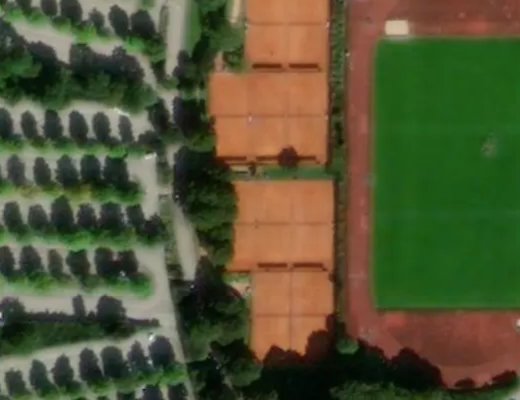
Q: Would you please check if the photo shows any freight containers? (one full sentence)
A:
No, the frame has no freight container in it.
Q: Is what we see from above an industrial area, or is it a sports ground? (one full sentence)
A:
The area seen from above is a sports ground.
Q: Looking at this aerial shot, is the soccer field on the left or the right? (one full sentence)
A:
You can find the soccer field on the right side of the picture.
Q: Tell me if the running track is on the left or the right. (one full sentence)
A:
You can find the running track on the right side of the picture.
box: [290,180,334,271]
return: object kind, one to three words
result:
tennis court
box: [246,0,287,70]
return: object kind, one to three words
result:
tennis court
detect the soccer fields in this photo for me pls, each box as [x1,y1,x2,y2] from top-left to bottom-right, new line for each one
[371,36,520,312]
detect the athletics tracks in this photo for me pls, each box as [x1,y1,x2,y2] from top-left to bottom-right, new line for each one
[348,0,520,392]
